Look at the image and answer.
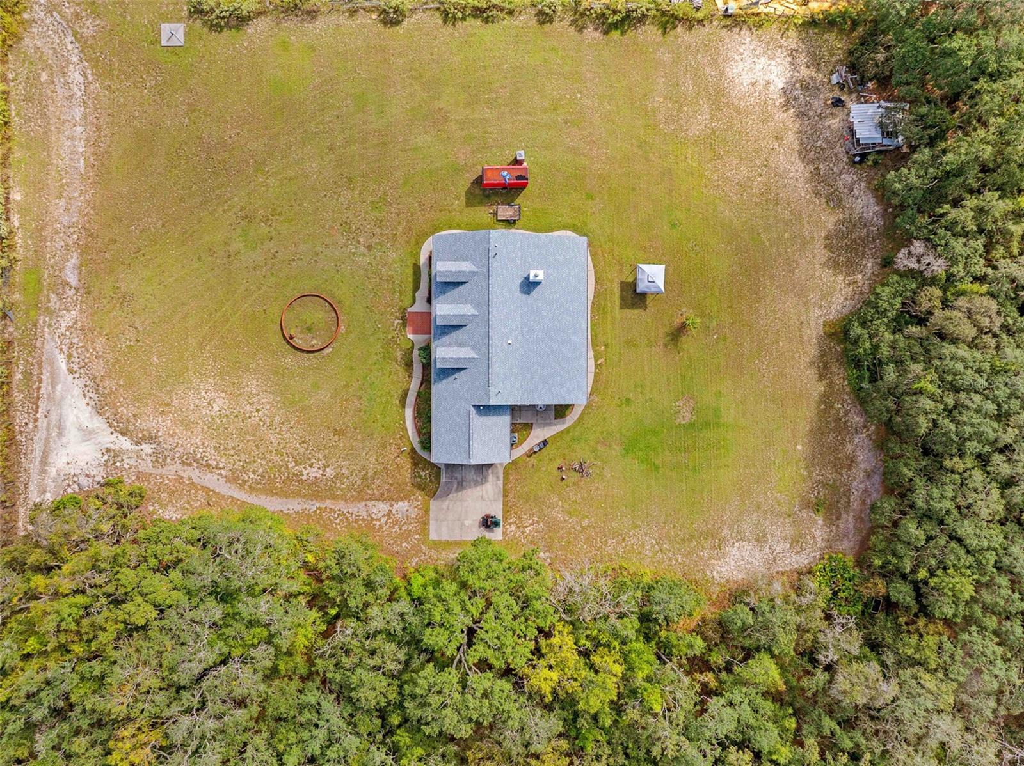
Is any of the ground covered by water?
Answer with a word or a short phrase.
No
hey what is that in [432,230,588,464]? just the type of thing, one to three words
house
